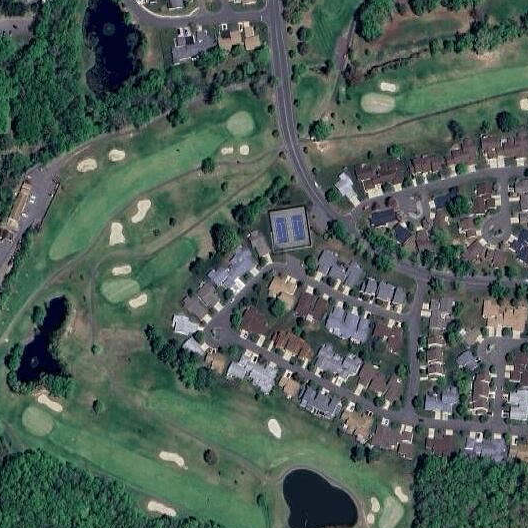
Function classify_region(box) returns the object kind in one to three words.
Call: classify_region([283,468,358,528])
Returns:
pond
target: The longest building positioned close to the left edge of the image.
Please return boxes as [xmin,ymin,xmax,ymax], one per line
[10,185,30,222]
